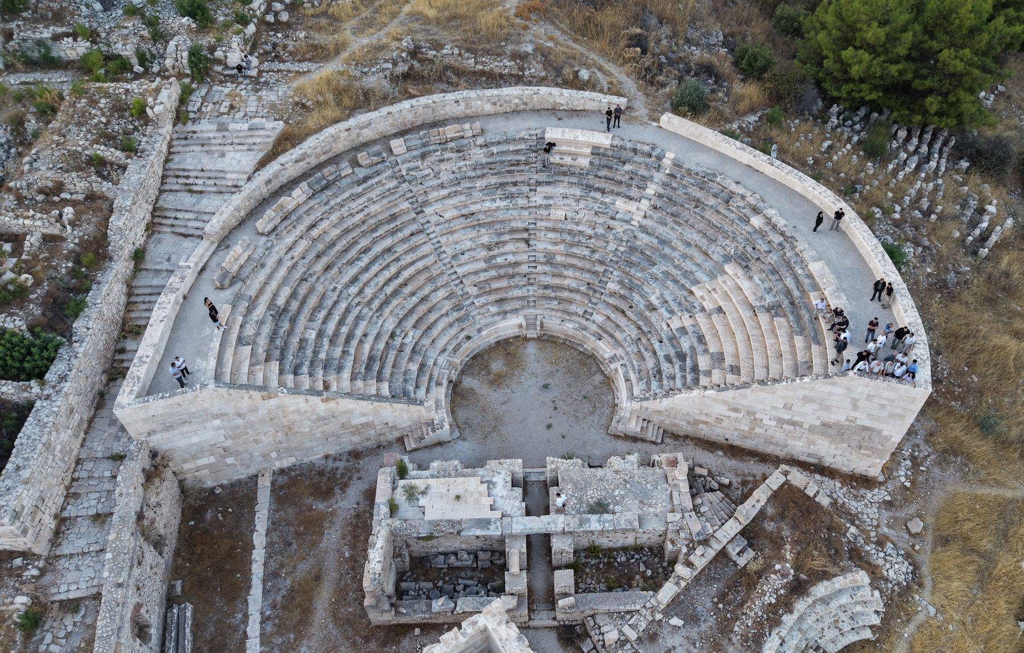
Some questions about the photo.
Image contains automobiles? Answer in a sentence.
No, the frame has no automobile in it.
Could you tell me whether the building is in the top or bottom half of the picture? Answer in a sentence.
You can find the building in the bottom half.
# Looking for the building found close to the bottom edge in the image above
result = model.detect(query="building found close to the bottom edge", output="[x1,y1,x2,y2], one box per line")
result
[363,452,691,628]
